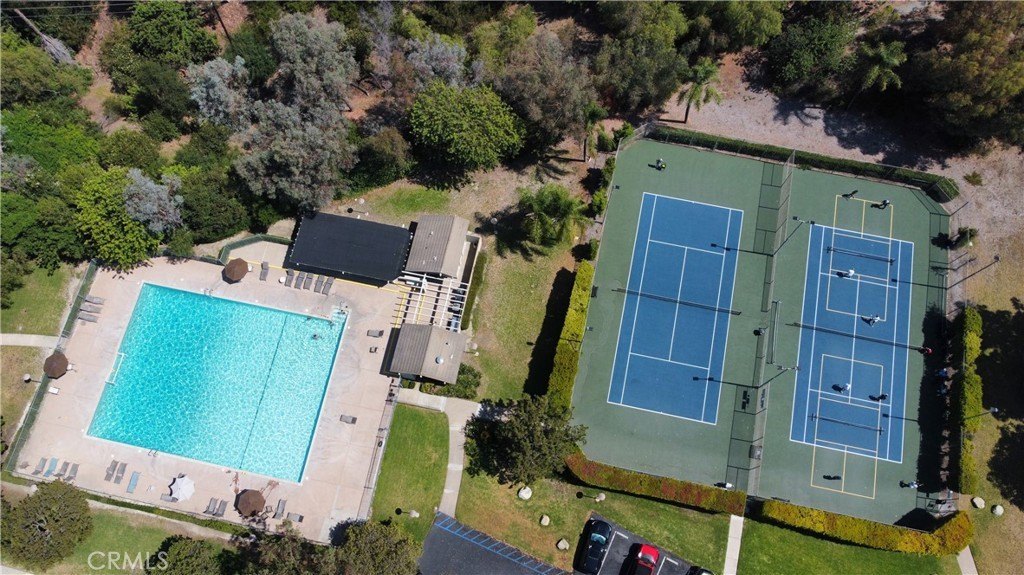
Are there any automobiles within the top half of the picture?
No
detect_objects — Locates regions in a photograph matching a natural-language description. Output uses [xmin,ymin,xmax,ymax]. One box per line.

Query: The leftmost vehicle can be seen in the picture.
[577,520,611,575]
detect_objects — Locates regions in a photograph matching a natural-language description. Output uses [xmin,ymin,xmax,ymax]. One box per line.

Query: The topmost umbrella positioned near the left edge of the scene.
[46,353,71,378]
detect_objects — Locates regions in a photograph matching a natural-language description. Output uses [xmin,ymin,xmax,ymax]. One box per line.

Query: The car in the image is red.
[630,542,658,575]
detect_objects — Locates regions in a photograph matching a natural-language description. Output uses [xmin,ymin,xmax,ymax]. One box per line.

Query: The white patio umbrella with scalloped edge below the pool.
[170,475,196,502]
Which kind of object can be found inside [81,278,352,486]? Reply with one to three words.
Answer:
swimming pool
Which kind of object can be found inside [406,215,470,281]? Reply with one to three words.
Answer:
building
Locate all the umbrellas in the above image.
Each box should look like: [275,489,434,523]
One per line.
[225,259,249,281]
[170,475,196,502]
[46,353,71,378]
[237,488,266,517]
